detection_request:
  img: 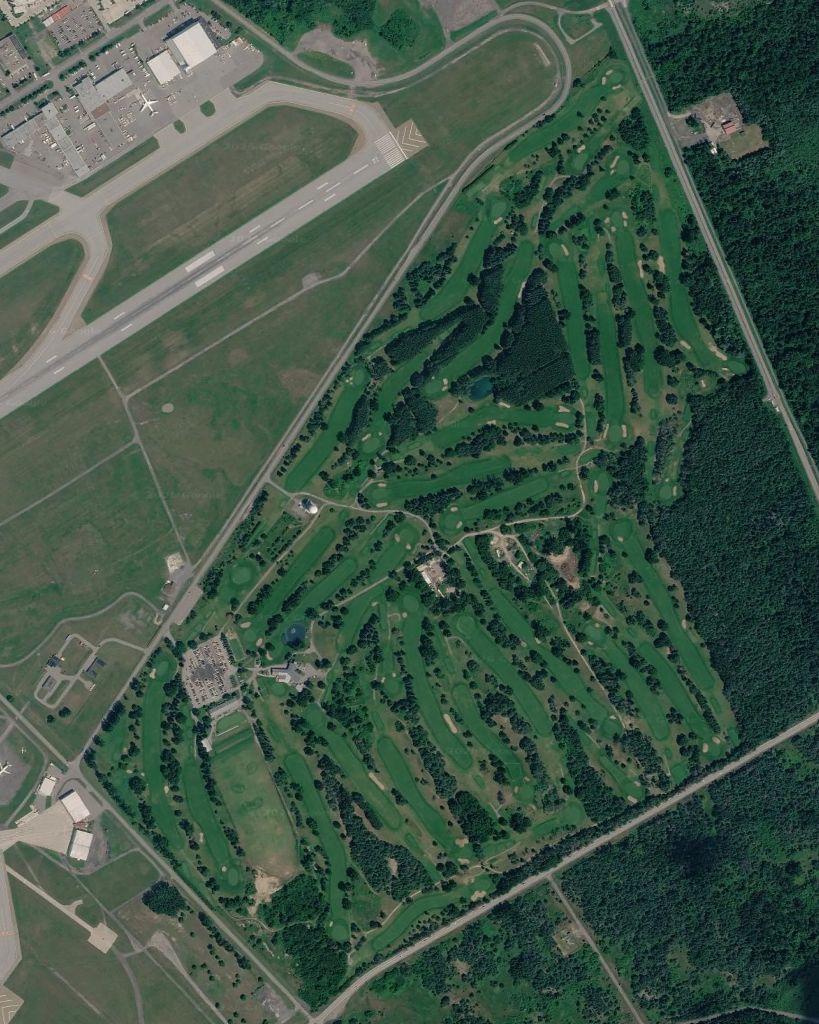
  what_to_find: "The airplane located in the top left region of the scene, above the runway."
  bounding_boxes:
[141,94,157,113]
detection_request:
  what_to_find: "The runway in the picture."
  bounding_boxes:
[0,132,407,418]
